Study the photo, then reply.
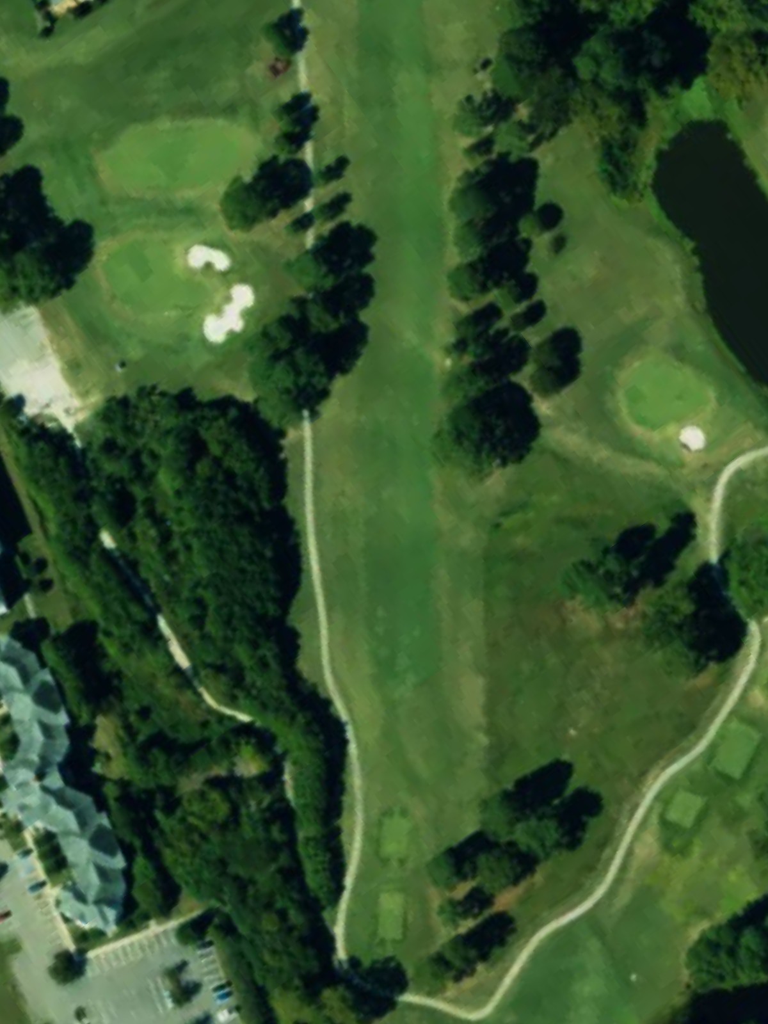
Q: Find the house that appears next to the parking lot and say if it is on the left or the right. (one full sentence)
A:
The house that appears next to the parking lot appears in the left half of the scene.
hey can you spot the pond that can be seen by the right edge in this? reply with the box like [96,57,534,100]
[653,119,768,388]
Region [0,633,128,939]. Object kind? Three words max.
house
